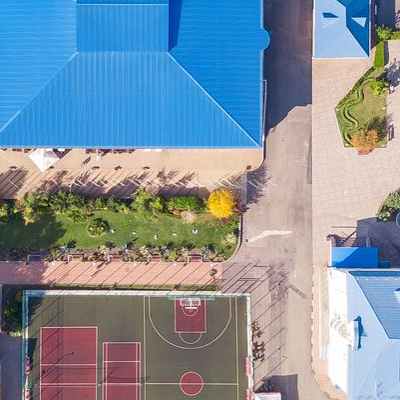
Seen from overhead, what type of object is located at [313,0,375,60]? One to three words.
building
